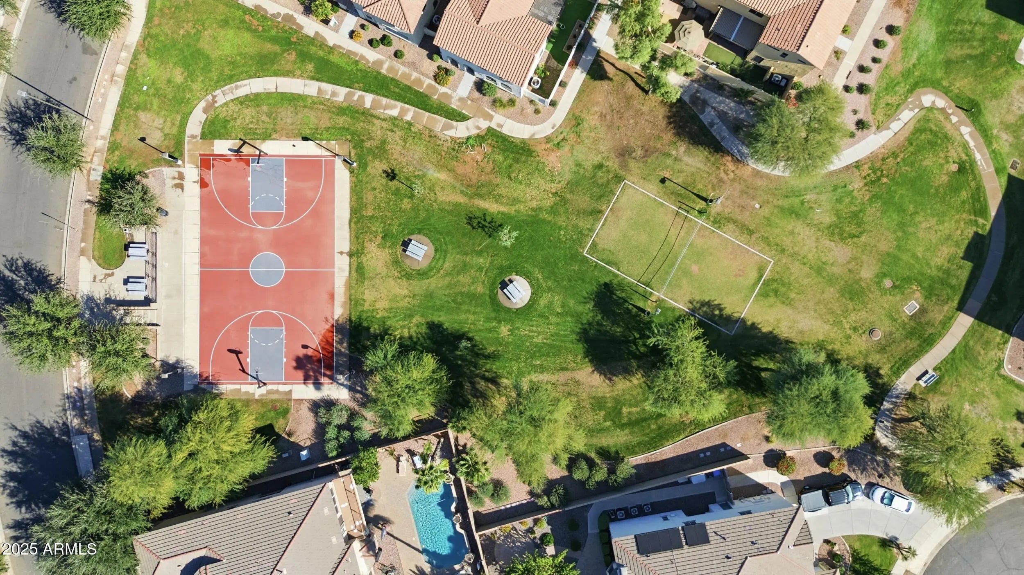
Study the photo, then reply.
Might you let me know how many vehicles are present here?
2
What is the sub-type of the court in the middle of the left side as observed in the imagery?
basketball court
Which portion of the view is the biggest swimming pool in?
bottom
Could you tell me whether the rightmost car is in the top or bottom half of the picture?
bottom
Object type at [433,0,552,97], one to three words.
house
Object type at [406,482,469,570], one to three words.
swimming pool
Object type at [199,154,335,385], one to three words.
basketball court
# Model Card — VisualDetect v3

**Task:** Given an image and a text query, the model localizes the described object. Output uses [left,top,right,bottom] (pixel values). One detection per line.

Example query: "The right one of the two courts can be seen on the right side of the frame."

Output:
[585,182,773,334]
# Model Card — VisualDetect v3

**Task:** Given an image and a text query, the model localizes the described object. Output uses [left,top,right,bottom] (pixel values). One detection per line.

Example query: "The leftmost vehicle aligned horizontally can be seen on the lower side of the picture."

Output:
[801,481,862,511]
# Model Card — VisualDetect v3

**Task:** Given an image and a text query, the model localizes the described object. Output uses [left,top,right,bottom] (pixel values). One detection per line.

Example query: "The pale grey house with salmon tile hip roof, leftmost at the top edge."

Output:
[346,0,437,46]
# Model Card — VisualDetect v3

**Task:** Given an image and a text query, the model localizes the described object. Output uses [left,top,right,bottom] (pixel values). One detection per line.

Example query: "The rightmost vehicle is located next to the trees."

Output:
[868,484,917,514]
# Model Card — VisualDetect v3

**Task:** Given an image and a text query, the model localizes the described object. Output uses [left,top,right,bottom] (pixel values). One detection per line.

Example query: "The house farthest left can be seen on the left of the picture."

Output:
[132,464,384,575]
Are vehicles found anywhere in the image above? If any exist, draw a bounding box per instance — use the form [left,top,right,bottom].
[868,484,917,514]
[801,481,862,511]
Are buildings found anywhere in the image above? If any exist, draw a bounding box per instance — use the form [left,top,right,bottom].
[132,464,384,575]
[608,492,816,575]
[697,0,857,81]
[346,0,437,46]
[433,0,552,97]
